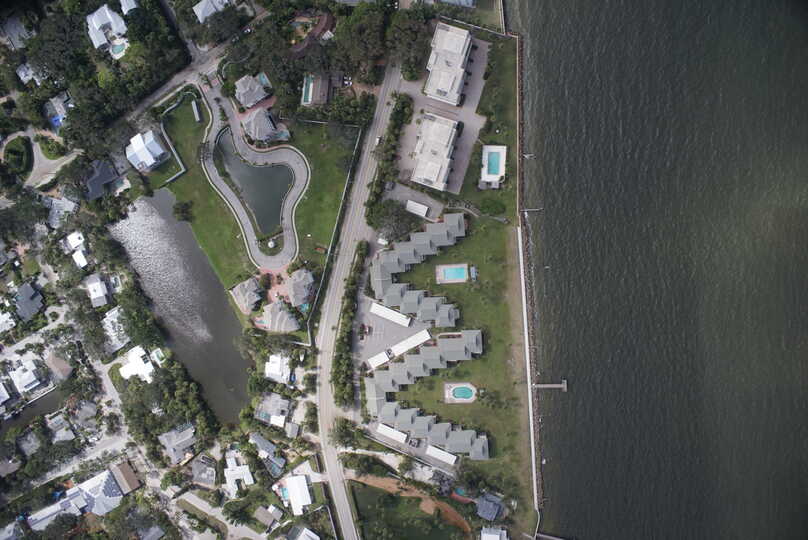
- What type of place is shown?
residential area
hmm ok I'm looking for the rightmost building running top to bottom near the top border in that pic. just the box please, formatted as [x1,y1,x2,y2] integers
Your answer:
[424,24,472,106]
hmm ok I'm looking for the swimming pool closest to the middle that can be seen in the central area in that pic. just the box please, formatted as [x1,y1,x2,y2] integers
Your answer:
[436,264,468,284]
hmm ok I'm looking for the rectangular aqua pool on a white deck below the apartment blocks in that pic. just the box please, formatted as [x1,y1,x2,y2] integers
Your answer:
[481,145,507,183]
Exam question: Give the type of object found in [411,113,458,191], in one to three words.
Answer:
building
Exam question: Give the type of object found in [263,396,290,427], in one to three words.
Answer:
house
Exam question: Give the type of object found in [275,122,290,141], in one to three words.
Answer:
swimming pool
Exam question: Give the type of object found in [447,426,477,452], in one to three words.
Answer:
house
